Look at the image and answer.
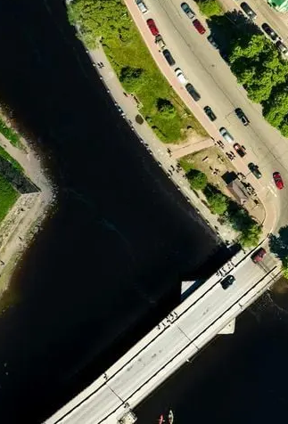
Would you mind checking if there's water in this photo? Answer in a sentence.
Yes, there's water in this view.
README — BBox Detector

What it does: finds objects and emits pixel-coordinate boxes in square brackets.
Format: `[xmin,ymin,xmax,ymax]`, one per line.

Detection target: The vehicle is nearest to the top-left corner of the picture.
[135,0,147,14]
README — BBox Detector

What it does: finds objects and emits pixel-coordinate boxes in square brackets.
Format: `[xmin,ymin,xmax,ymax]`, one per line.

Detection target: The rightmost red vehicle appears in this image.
[270,173,285,189]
